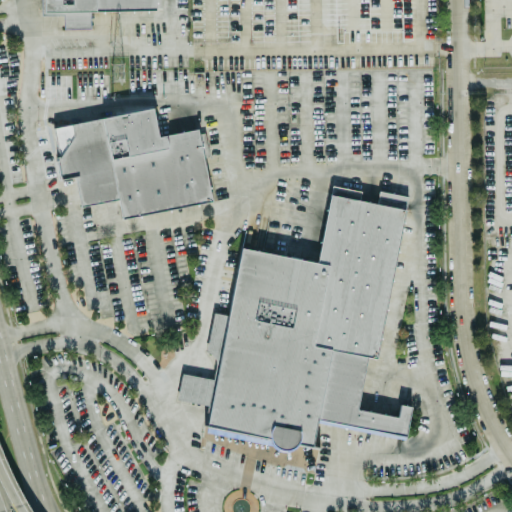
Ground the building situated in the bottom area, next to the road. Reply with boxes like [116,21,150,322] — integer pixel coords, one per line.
[178,187,414,452]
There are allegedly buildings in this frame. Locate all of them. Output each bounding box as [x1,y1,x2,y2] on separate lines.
[46,0,157,30]
[57,108,212,220]
[178,187,414,452]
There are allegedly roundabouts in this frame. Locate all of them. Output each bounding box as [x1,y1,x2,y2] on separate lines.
[223,490,260,512]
